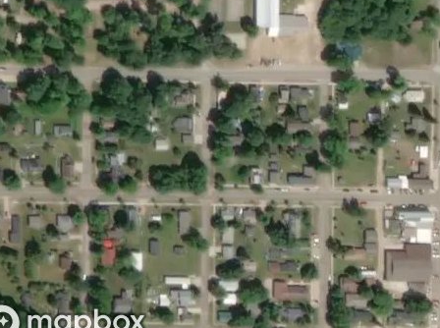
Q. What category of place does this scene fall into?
residential area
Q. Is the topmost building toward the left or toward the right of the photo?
right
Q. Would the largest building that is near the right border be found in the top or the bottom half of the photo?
bottom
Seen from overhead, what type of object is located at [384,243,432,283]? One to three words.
building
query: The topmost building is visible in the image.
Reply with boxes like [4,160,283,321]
[279,13,308,37]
